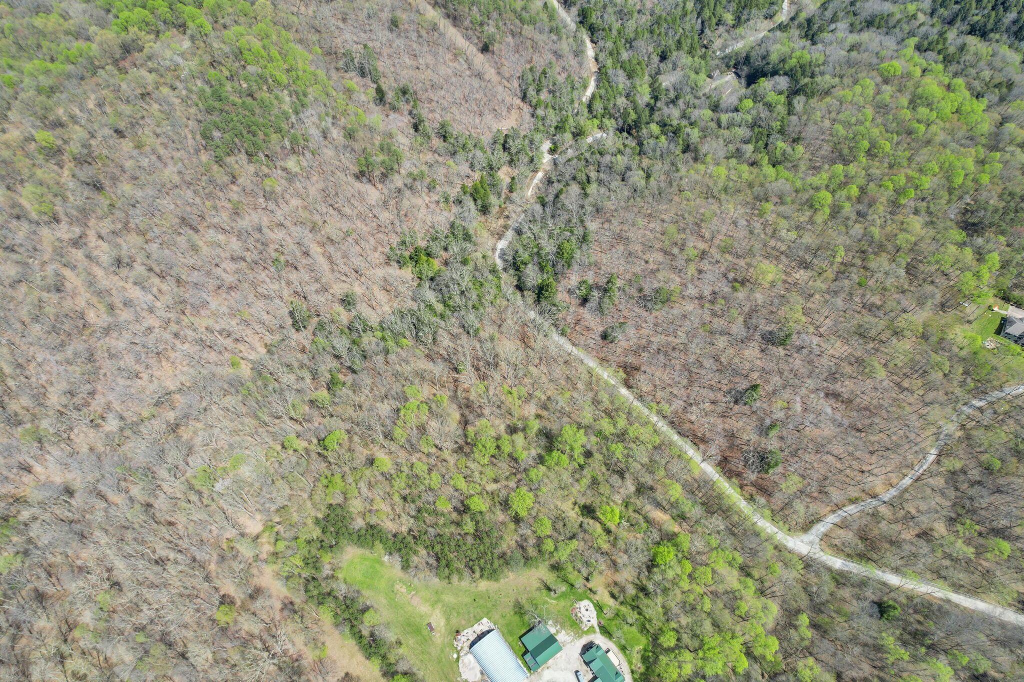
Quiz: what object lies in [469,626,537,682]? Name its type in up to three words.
shed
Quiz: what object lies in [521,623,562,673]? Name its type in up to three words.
barn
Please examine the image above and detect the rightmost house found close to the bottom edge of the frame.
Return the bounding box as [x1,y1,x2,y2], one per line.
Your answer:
[583,643,629,682]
